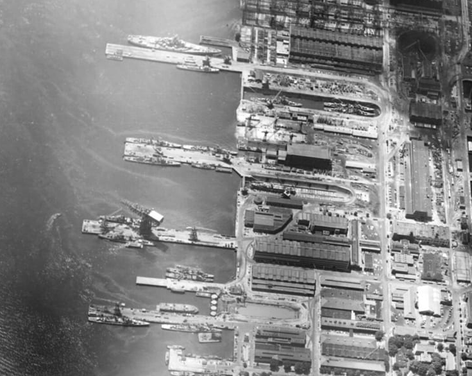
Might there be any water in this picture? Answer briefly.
Yes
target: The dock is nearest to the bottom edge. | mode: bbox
[169,348,238,374]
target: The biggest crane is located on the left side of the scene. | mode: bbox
[118,198,167,240]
